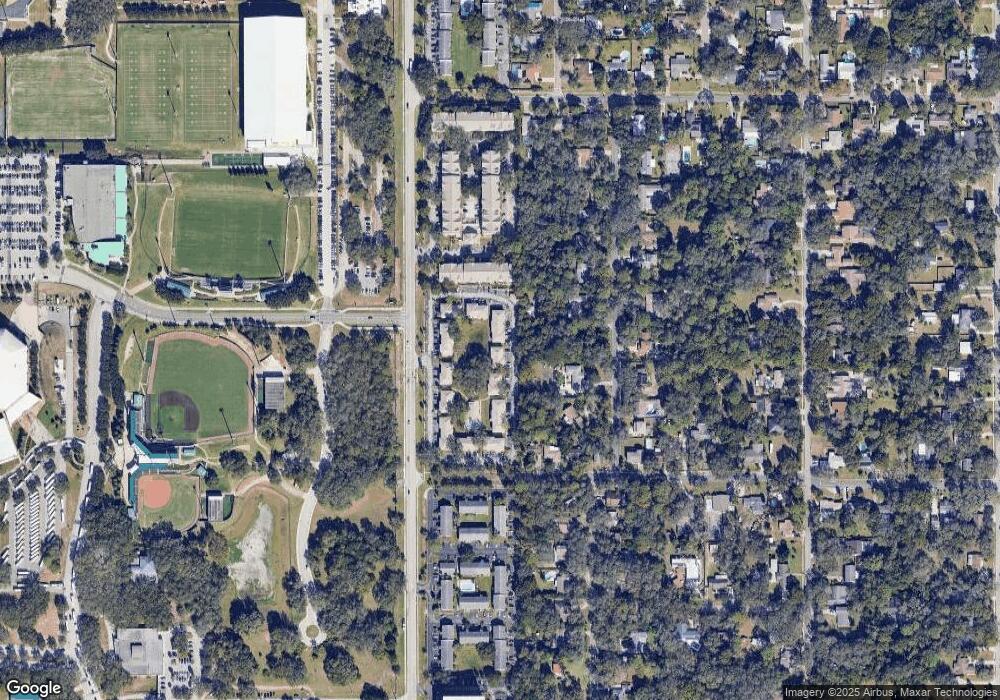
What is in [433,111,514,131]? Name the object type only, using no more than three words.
building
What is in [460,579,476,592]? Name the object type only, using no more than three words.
swimming pool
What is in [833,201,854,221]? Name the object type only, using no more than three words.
house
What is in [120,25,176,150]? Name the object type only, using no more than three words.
sports field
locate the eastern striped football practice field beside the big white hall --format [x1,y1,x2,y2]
[179,25,235,150]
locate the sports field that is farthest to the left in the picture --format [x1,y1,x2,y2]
[8,50,115,139]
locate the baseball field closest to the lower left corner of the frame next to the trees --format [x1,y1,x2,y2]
[136,474,200,532]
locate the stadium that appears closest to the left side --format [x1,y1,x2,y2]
[0,326,42,464]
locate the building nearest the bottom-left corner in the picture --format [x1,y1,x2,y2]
[114,629,163,675]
